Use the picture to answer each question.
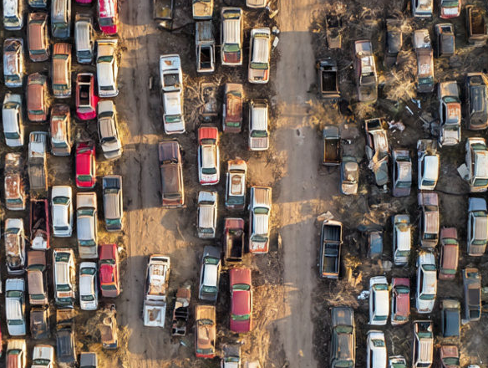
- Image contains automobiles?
Yes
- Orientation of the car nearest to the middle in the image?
from top to bottom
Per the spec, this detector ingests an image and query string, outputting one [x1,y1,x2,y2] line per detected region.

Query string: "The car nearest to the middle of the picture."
[226,160,247,210]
